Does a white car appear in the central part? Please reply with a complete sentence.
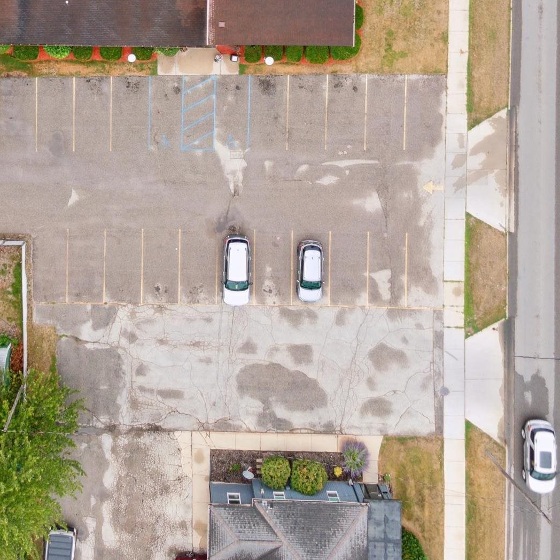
Yes, a white car can be seen in the central part.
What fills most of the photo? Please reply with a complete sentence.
For the most part, this view shows paved ground.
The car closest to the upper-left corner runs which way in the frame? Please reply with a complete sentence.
The car closest to the upper-left corner is oriented from top to bottom.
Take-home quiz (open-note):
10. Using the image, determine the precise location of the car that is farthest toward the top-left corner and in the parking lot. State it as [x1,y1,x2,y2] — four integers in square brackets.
[220,233,253,306]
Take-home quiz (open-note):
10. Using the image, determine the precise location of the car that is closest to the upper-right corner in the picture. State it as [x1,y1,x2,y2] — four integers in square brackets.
[296,240,328,302]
